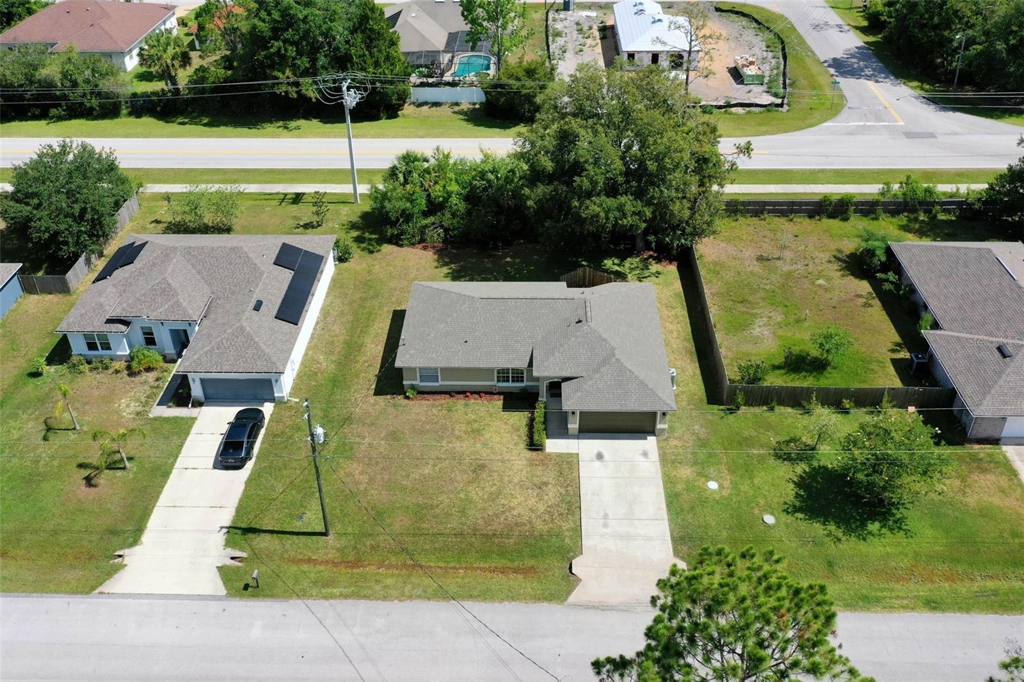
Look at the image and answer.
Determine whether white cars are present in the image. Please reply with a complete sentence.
No, I can't see a single white car in this photo.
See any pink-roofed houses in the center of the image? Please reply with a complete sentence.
No, no pink-roofed house can be made out in the center of the image.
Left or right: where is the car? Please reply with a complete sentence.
You can find the car on the left side of the picture.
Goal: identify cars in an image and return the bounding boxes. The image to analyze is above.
[216,402,270,464]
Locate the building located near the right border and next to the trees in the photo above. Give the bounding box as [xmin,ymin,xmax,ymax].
[888,242,1024,441]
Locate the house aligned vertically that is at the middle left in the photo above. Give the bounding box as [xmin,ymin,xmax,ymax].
[0,263,31,335]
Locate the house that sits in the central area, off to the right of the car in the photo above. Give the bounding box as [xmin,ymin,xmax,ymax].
[395,281,676,435]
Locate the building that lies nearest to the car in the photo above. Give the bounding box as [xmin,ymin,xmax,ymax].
[60,234,334,404]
